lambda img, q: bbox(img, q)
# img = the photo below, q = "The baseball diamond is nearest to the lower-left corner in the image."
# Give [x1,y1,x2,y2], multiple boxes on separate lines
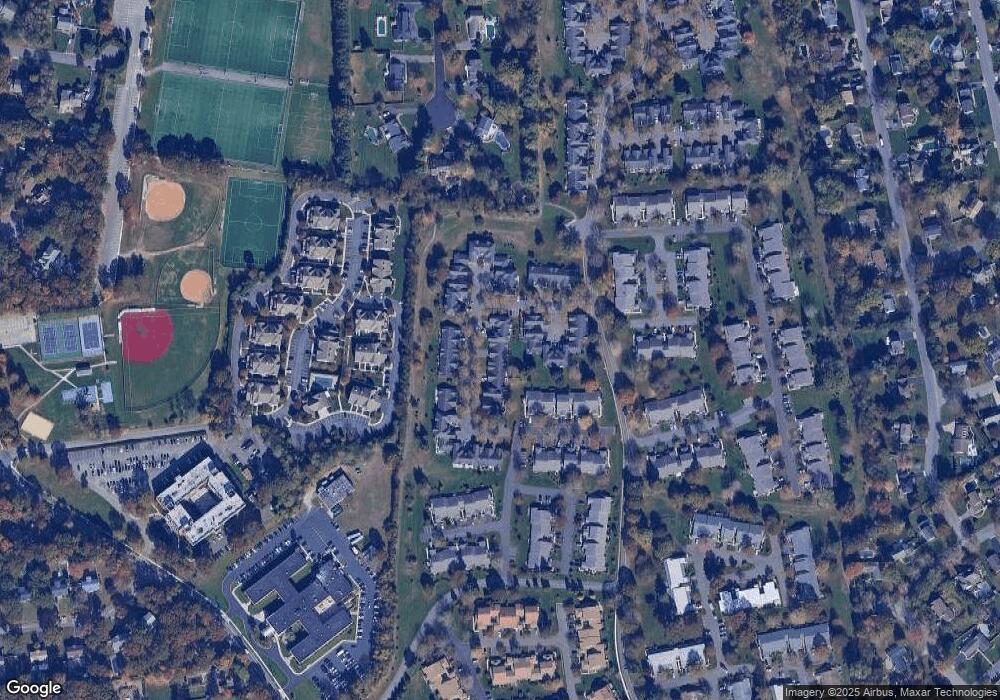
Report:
[117,307,221,411]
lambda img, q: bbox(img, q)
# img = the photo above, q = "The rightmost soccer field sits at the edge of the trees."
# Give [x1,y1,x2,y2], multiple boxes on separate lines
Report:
[286,84,332,162]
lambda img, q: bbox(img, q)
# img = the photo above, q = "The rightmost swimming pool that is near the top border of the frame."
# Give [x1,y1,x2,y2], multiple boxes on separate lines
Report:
[931,33,945,53]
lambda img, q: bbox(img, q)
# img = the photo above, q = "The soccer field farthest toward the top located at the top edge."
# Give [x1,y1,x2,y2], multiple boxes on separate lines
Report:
[162,0,303,82]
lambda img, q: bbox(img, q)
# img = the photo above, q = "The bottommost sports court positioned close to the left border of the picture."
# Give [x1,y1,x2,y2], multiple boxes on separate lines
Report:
[21,413,54,439]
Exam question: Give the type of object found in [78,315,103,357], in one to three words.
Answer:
basketball court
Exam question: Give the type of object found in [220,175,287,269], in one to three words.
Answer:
soccer field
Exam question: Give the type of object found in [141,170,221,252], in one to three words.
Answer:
baseball field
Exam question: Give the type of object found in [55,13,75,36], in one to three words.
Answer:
house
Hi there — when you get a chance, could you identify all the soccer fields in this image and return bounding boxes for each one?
[162,0,303,82]
[286,84,332,162]
[220,175,287,269]
[151,70,289,164]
